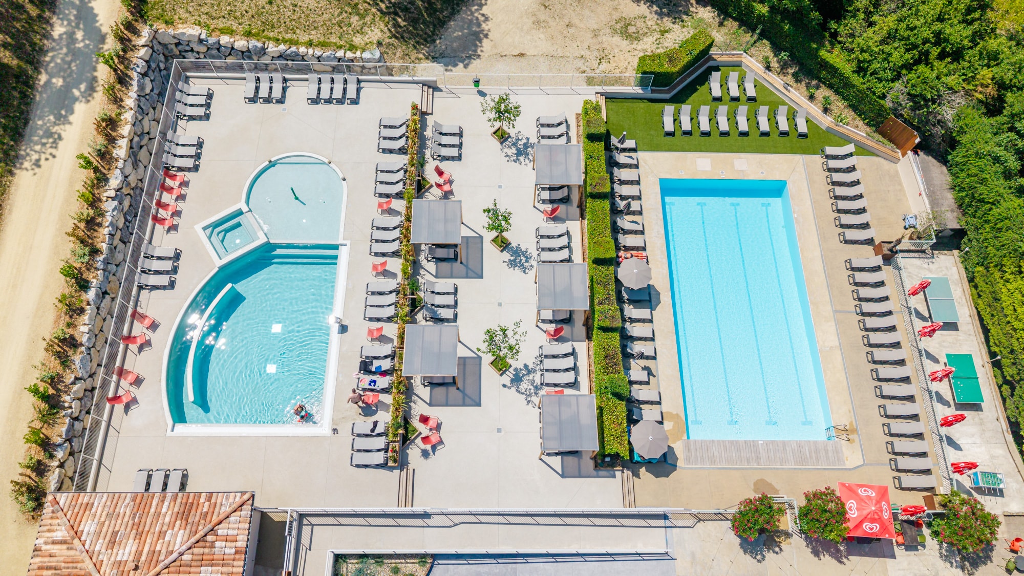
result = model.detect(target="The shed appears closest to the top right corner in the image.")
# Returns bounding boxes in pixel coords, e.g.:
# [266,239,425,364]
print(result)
[874,117,918,156]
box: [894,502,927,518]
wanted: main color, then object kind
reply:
red umbrella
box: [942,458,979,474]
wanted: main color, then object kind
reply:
red umbrella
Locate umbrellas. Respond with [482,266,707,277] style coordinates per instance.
[894,502,927,518]
[942,458,979,474]
[631,348,646,365]
[920,366,955,383]
[911,322,942,341]
[932,411,967,428]
[620,199,633,220]
[627,419,670,463]
[616,260,651,293]
[837,482,896,539]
